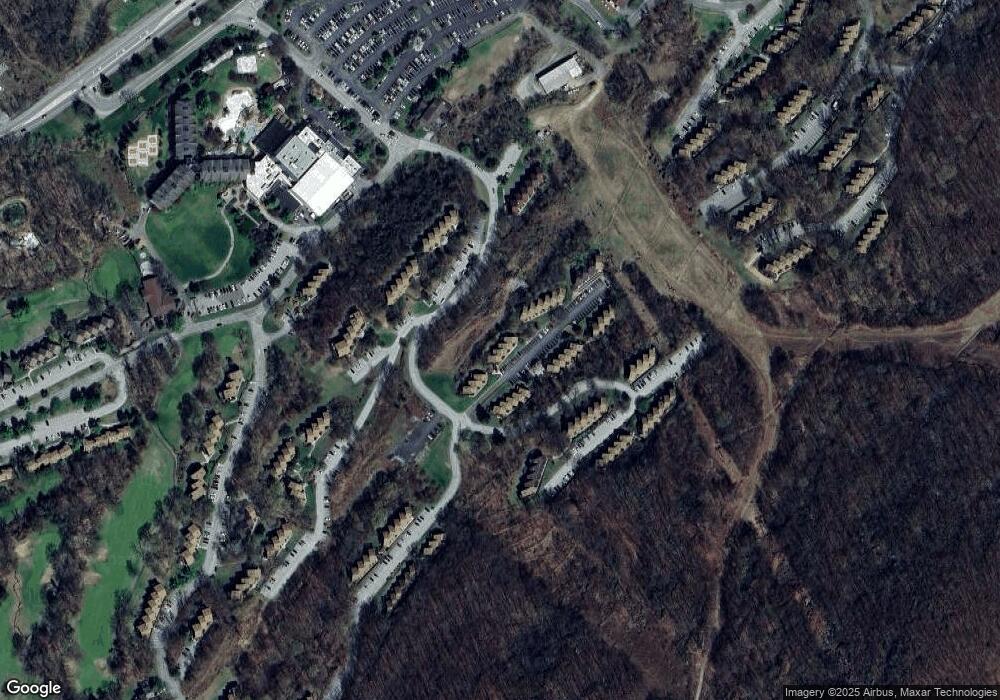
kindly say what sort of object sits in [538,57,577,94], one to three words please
shed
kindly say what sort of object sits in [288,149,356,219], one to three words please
building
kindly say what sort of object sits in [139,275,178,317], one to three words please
building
